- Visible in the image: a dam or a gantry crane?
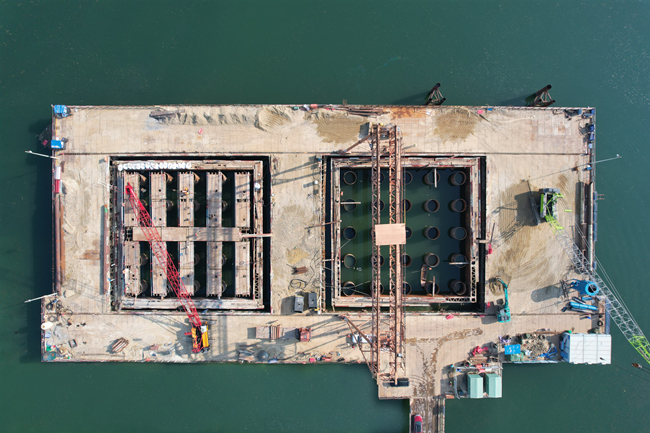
gantry crane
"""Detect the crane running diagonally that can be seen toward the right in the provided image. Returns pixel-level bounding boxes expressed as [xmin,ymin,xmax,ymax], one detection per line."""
[528,185,650,373]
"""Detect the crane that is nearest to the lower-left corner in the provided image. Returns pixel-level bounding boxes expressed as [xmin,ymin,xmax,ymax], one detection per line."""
[122,179,216,358]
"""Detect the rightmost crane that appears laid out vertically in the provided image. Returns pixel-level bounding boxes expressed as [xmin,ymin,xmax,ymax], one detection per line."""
[335,124,408,385]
